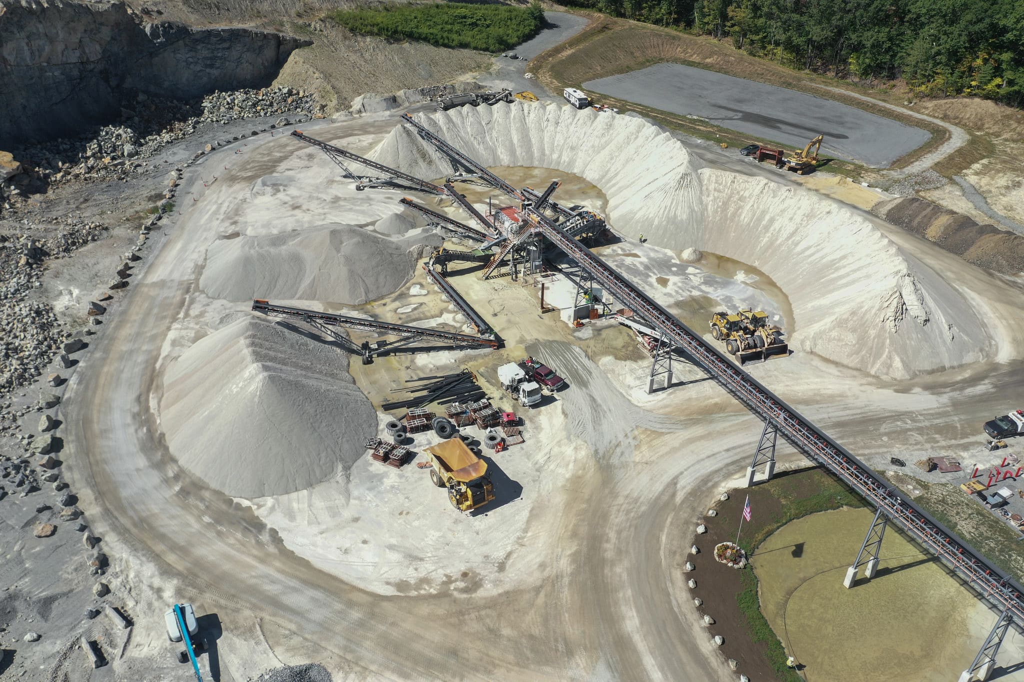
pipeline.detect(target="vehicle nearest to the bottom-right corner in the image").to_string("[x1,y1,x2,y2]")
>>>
[985,411,1024,440]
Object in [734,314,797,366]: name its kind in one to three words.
work vehicle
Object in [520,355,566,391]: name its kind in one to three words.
truck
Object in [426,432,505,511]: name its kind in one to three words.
truck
